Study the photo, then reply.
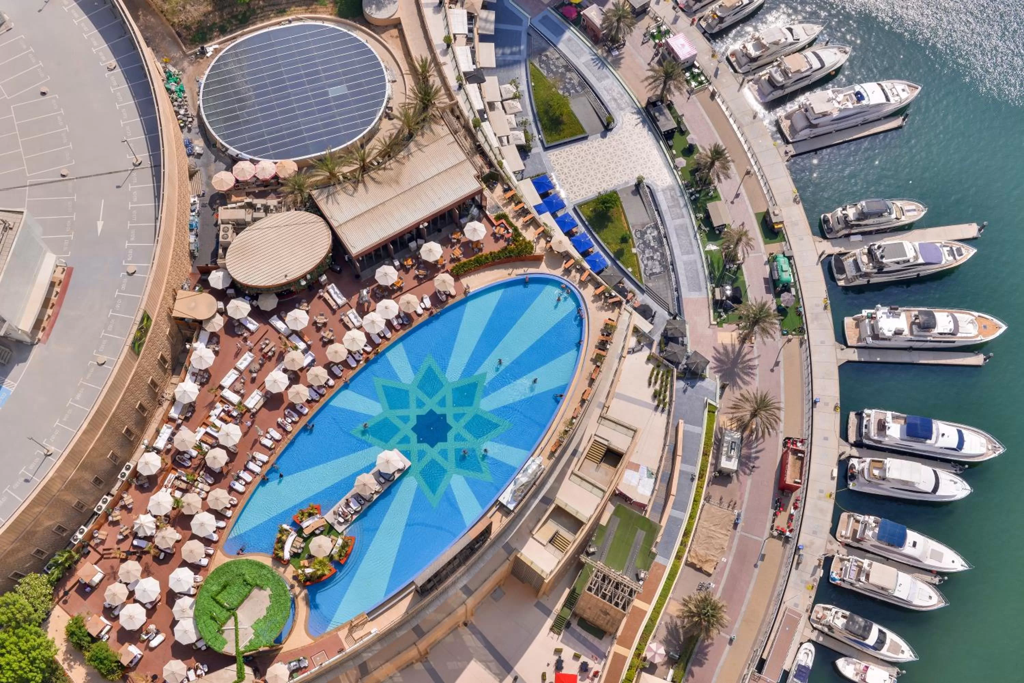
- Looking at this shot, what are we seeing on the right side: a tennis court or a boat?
boat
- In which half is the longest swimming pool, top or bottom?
bottom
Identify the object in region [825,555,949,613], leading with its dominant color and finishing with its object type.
white boat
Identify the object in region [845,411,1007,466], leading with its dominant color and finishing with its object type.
white boat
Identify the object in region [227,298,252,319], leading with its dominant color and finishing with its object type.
white umbrella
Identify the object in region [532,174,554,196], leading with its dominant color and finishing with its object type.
blue umbrella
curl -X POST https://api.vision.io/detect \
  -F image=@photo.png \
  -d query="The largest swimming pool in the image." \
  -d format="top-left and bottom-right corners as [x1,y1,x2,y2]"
[216,270,590,641]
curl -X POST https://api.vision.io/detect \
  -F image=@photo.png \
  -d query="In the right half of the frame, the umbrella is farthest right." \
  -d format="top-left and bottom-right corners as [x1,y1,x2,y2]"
[778,291,797,308]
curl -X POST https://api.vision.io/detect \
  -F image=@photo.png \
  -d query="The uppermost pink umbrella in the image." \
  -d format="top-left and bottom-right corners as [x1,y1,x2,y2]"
[562,8,577,24]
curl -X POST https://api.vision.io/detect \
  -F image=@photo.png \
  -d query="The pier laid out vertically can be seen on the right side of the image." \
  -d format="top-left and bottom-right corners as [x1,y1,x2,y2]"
[662,0,840,683]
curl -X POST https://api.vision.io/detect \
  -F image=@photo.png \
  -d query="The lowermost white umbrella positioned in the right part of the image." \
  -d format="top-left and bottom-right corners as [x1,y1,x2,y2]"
[645,642,666,664]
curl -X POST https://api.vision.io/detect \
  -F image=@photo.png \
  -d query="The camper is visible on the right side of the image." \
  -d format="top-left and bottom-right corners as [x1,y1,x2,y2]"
[767,253,794,284]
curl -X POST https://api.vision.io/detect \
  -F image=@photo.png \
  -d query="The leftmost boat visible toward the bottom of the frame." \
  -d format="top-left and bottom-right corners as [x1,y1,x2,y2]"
[785,643,815,683]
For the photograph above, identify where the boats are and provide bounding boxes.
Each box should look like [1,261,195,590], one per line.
[748,46,851,111]
[845,411,1007,466]
[825,555,949,613]
[834,510,974,574]
[723,20,828,75]
[785,643,815,683]
[839,308,1009,354]
[805,598,918,662]
[817,200,927,243]
[828,240,976,288]
[844,457,973,507]
[774,84,923,148]
[696,0,766,41]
